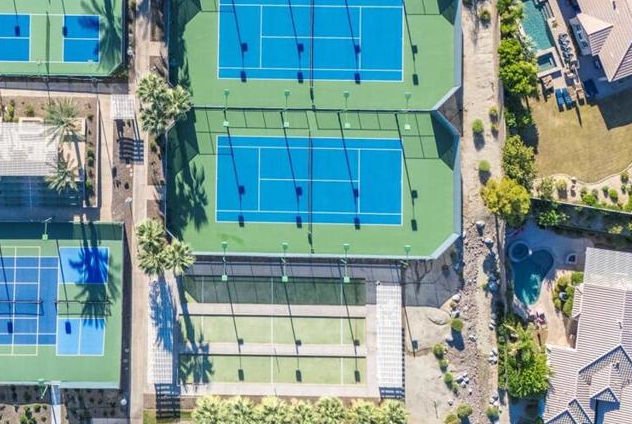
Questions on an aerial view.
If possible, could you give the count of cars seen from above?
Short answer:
0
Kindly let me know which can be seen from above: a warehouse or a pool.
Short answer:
pool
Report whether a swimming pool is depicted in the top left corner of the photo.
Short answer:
No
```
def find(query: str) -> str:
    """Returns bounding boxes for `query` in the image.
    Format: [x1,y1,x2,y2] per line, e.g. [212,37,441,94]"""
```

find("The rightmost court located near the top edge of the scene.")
[169,0,454,110]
